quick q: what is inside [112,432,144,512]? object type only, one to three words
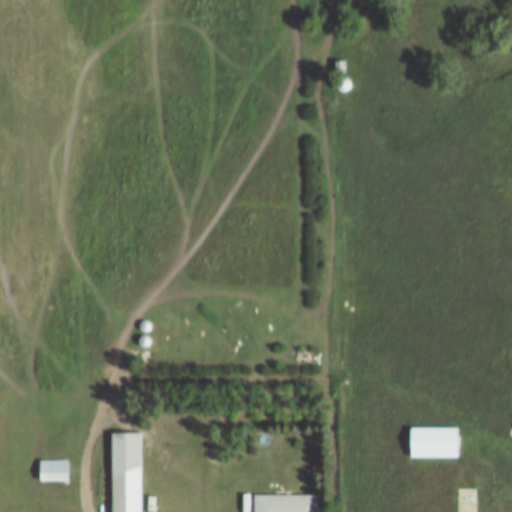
barn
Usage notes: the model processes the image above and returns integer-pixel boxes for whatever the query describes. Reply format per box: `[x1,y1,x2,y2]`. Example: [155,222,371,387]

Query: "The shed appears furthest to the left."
[39,460,71,482]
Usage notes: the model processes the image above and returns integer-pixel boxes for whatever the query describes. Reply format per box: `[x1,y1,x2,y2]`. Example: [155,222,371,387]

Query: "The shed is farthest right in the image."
[410,426,460,459]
